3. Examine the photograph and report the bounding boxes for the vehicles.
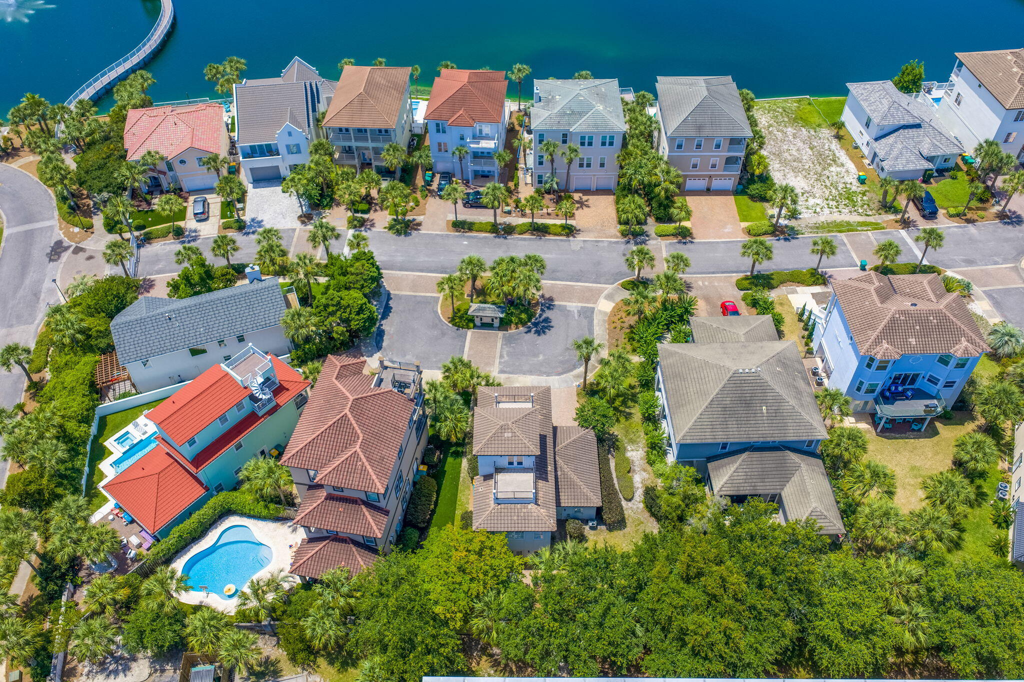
[720,297,745,315]
[188,197,212,221]
[462,190,500,210]
[378,170,395,195]
[912,190,942,221]
[435,171,453,198]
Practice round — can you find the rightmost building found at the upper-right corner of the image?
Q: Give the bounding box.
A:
[939,50,1024,164]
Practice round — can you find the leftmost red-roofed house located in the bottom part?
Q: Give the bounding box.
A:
[100,335,313,538]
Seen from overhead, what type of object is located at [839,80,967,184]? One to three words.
house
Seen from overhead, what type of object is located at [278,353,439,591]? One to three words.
house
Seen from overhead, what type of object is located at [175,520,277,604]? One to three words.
swimming pool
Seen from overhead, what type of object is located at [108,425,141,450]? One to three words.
swimming pool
